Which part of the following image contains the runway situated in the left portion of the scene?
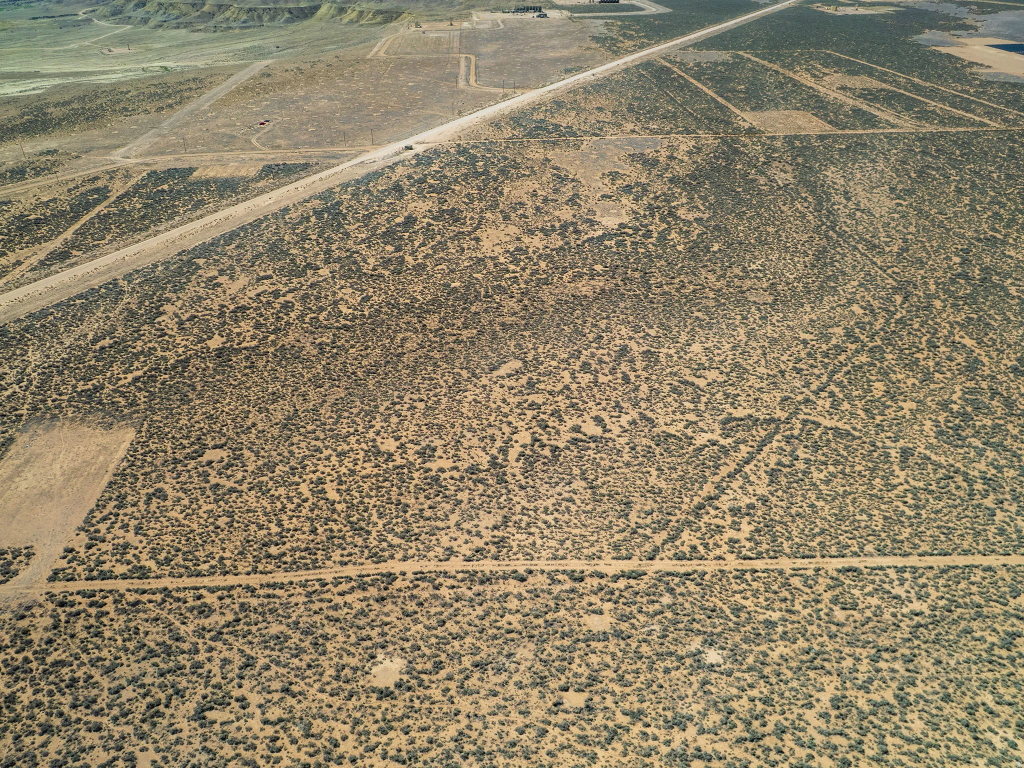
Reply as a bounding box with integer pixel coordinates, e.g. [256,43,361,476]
[116,60,276,156]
